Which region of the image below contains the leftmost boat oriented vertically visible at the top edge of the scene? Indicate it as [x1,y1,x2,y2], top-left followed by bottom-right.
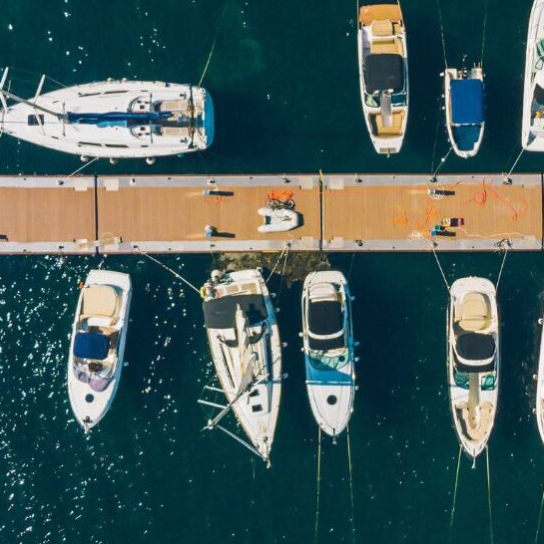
[359,6,409,159]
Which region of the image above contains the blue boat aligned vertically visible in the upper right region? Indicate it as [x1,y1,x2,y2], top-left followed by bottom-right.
[445,57,484,160]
